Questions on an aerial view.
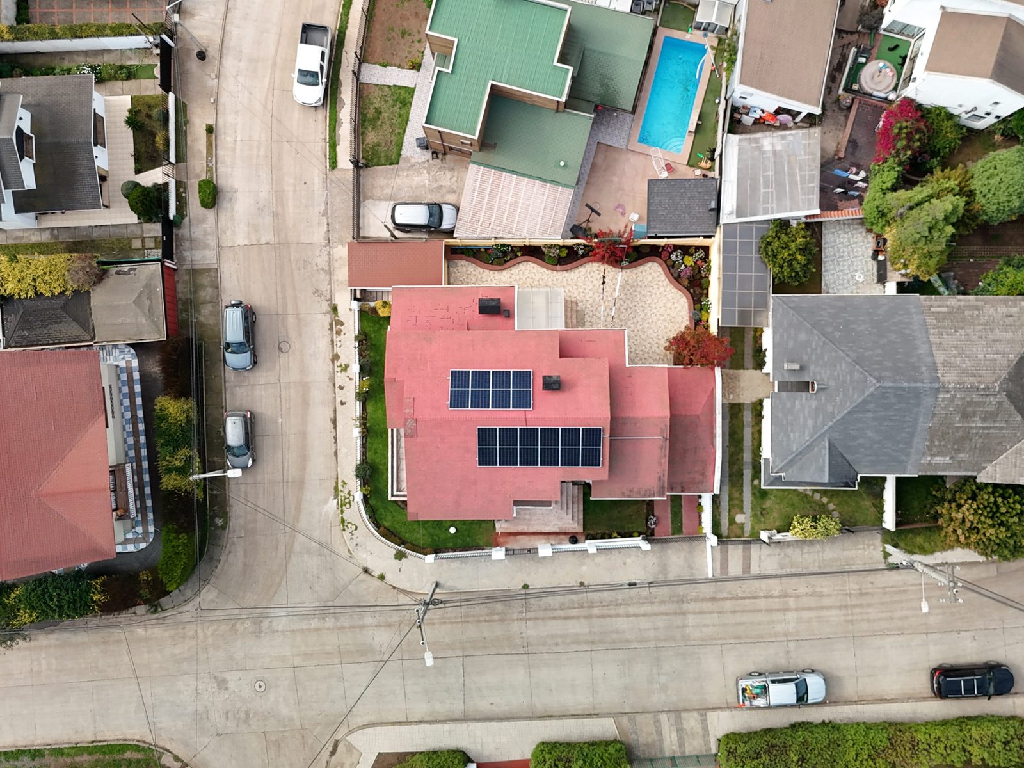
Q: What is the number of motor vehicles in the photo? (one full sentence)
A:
In total, there are 6 motor vehicles in the scene.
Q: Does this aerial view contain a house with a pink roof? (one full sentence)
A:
Yes, I can see a house with a pink roof in this picture.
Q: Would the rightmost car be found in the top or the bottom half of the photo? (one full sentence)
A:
The bottom half of the photo is where the rightmost car is.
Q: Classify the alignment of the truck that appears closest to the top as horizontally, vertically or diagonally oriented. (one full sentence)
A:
In this picture, the truck that appears closest to the top is oriented vertically.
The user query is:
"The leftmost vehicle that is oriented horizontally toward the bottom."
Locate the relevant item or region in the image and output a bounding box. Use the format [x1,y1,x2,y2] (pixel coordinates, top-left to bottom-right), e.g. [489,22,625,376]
[734,671,826,712]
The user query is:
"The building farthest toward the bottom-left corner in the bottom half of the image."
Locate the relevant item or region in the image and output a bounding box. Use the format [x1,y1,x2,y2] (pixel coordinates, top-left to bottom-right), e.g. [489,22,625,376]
[0,350,142,580]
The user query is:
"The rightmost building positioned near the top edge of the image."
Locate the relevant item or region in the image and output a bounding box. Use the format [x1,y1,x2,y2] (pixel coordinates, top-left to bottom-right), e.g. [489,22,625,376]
[880,0,1024,121]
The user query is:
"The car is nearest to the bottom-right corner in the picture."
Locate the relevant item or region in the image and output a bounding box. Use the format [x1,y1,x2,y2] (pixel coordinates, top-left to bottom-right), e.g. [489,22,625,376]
[928,661,1015,703]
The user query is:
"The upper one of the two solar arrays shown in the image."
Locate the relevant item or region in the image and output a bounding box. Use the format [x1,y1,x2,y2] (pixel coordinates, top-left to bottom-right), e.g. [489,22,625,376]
[448,369,533,410]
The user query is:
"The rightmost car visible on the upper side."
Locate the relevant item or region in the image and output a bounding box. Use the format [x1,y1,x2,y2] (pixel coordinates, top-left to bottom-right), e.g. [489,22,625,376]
[391,197,460,235]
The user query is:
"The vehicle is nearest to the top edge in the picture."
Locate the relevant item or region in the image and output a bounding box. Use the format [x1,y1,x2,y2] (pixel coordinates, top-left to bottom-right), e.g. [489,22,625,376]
[289,19,330,105]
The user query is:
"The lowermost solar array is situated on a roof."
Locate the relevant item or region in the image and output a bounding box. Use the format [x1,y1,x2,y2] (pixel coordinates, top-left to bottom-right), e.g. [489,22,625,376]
[476,427,604,467]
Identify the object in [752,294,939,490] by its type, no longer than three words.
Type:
house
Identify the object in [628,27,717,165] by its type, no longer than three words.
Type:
swimming pool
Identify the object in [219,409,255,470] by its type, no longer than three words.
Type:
car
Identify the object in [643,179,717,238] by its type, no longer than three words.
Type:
shed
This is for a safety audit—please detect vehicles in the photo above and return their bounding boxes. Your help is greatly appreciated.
[391,197,460,235]
[734,671,826,712]
[218,298,256,370]
[219,409,255,470]
[289,19,330,105]
[928,661,1015,703]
